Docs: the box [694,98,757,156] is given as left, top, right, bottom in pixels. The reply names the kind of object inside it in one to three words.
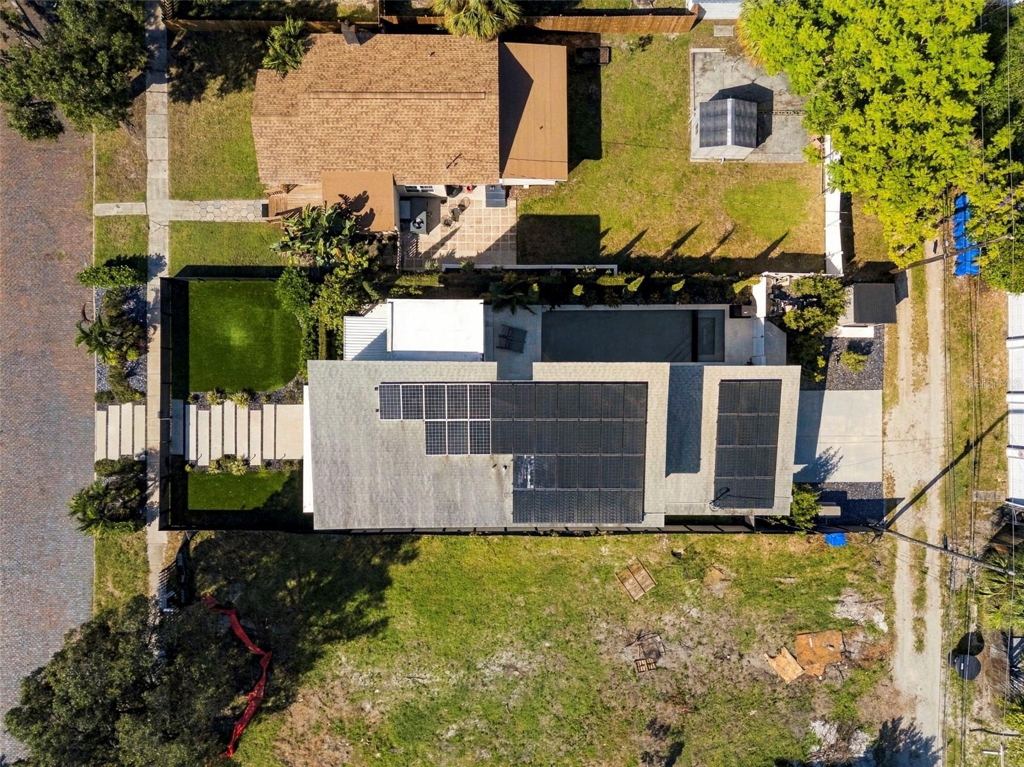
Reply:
shed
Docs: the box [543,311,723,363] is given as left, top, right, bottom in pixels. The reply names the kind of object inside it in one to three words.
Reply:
swimming pool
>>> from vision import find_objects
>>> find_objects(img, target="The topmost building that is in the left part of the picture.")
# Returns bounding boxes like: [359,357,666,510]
[250,20,568,241]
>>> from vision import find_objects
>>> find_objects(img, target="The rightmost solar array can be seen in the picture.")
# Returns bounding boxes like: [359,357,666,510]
[713,380,783,510]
